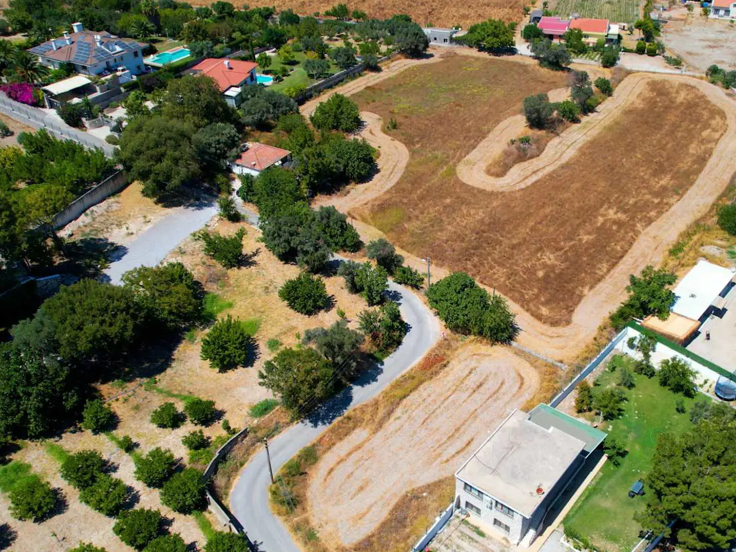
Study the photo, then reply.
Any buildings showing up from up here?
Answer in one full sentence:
Yes, the picture does show a building.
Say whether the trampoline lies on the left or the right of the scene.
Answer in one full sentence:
The trampoline appears in the right half of the scene.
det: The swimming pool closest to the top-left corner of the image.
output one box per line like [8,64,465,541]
[149,47,192,68]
